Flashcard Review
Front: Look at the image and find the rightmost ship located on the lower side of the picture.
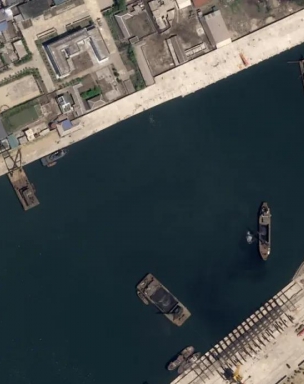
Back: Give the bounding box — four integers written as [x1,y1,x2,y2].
[258,202,270,261]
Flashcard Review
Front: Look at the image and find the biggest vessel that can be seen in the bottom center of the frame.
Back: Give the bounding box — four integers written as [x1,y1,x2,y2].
[138,274,189,326]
